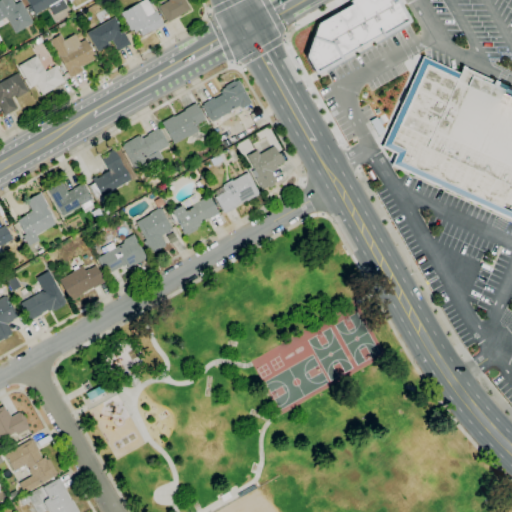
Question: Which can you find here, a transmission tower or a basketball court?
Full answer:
The image shows a basketball court.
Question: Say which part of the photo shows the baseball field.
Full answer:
You can find the baseball field in the bottom area of the picture.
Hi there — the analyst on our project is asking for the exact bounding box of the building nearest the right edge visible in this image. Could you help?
[383,55,512,218]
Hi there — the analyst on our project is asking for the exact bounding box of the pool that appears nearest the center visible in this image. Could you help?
[176,184,196,202]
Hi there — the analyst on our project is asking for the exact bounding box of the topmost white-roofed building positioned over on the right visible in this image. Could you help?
[309,0,416,70]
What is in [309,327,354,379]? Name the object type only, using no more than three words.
basketball court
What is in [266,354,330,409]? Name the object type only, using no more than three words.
basketball court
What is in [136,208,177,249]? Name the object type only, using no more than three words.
house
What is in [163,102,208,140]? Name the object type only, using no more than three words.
house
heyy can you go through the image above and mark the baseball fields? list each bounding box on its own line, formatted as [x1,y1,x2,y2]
[206,486,277,512]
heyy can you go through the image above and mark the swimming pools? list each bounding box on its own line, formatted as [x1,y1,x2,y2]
[118,226,128,236]
[130,200,150,216]
[176,184,196,202]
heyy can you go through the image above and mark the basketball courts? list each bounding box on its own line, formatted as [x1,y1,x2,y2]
[336,313,376,366]
[309,327,354,379]
[266,354,330,409]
